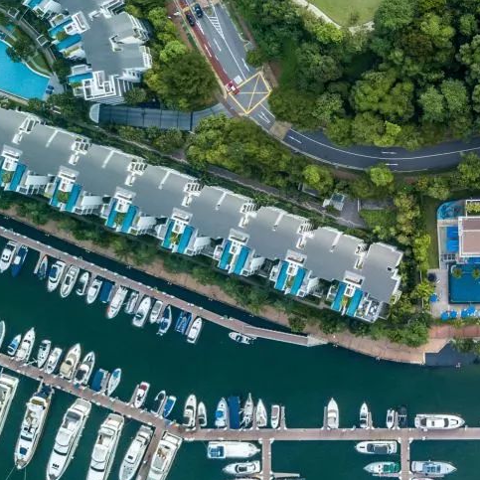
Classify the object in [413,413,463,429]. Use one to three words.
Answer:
boat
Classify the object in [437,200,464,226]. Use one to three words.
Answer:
swimming pool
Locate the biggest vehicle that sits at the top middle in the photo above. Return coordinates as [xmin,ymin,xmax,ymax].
[224,79,238,94]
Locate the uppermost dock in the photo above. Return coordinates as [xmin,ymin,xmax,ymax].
[0,226,309,346]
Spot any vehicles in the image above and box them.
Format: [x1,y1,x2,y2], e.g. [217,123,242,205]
[224,79,238,94]
[186,13,195,26]
[194,3,202,17]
